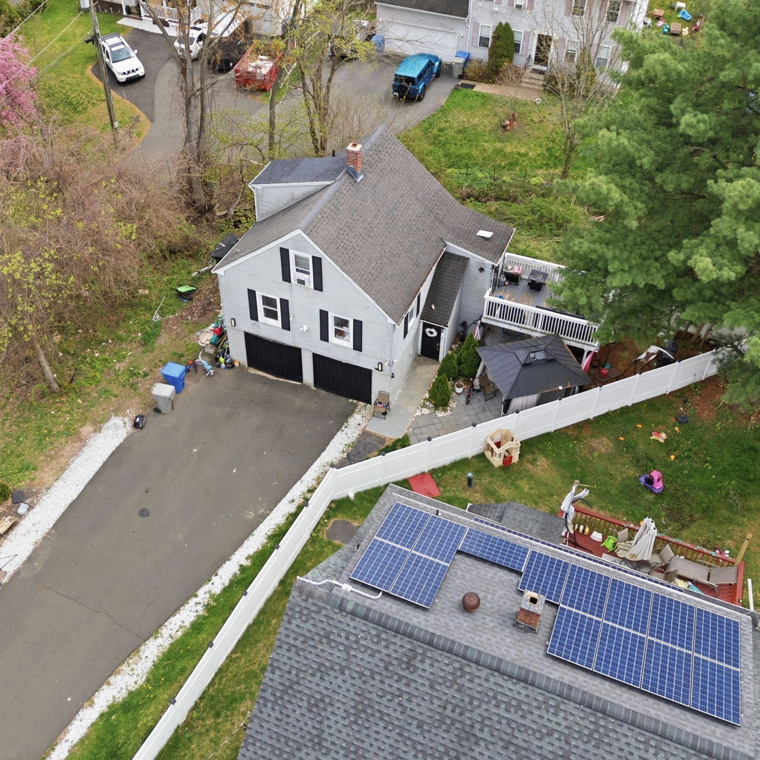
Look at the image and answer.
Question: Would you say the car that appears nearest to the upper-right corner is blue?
Yes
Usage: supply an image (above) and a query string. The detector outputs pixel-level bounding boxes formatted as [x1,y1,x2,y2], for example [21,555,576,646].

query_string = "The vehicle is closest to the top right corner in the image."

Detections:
[396,49,446,92]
